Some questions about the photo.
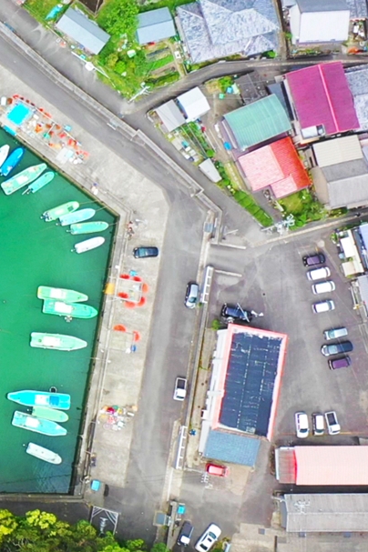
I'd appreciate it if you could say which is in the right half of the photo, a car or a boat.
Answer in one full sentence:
You can see a car in the right half of the photo.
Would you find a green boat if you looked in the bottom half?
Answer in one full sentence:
Yes, a green boat is visible in the bottom half.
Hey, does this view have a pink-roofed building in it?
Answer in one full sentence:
Yes, a pink-roofed building can be made out from above.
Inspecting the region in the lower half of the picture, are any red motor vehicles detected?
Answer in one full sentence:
Yes, I can see a red motor vehicle in the lower half of the picture.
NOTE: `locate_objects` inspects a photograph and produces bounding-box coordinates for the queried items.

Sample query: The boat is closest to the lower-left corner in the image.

[23,442,61,463]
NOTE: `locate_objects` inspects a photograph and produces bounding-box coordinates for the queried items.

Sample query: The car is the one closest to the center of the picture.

[182,282,200,307]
